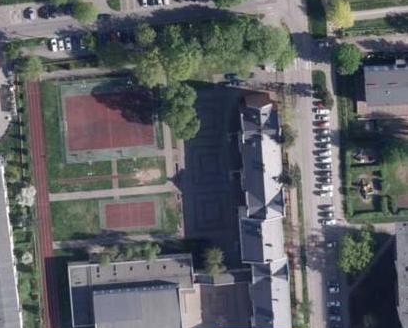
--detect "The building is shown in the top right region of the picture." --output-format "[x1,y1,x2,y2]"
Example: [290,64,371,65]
[363,53,408,105]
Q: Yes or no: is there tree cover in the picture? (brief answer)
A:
Yes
